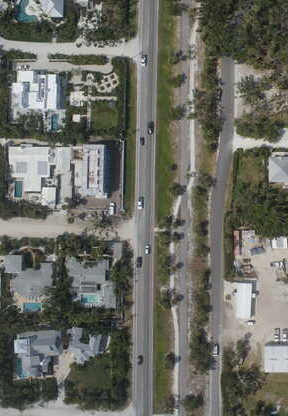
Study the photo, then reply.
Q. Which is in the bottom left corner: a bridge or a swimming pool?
swimming pool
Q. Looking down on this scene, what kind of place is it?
residential area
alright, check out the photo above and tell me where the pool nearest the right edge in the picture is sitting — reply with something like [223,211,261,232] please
[72,293,96,308]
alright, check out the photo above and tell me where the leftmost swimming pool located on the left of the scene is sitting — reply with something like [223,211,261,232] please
[7,177,25,201]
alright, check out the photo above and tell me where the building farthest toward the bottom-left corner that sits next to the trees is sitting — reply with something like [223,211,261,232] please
[14,329,67,378]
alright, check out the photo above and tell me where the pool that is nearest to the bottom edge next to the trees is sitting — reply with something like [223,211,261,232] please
[13,356,56,380]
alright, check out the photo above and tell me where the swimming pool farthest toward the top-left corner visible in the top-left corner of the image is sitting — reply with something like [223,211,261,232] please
[14,0,58,24]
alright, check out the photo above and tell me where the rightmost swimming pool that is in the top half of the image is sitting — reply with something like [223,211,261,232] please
[44,110,66,132]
